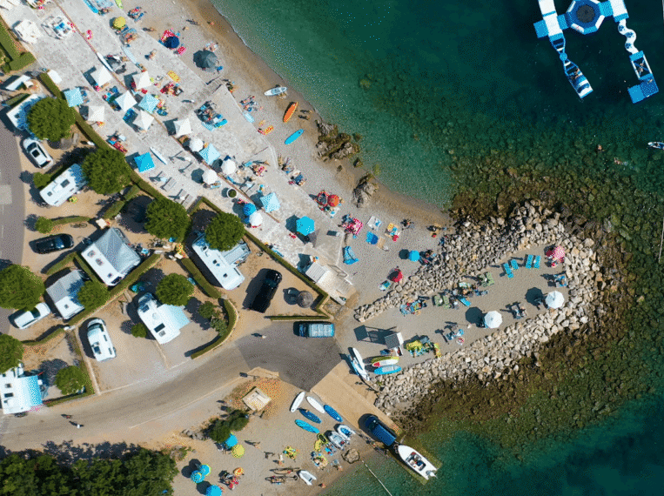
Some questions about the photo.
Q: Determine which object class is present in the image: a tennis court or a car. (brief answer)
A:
car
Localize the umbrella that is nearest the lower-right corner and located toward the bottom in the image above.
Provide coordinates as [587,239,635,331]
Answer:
[545,290,564,309]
